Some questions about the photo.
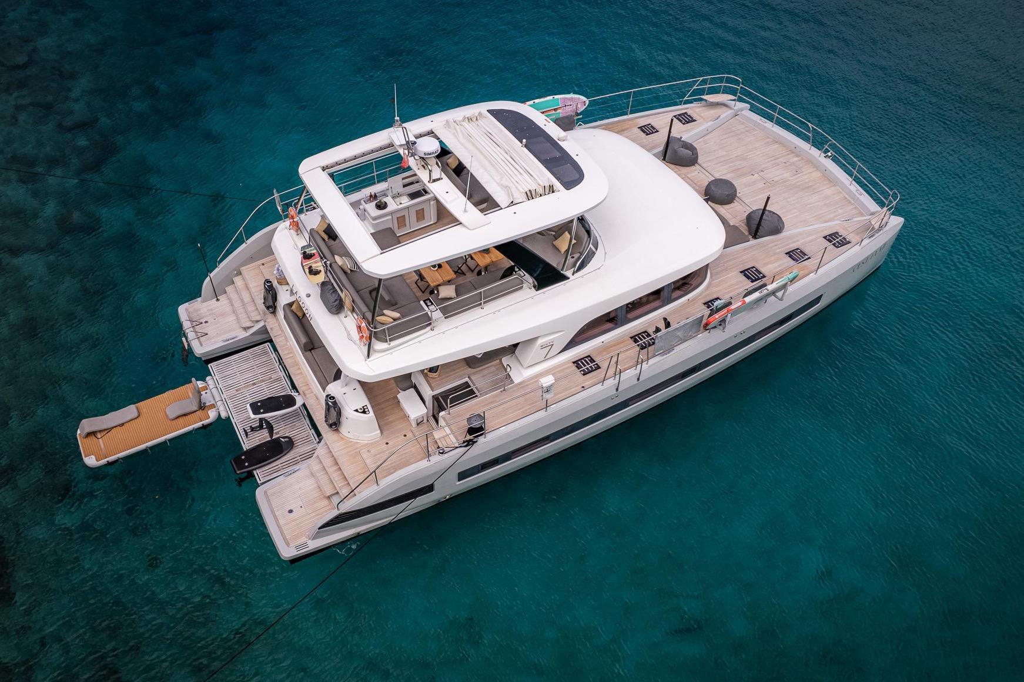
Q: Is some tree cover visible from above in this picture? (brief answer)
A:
No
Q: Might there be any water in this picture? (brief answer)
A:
Yes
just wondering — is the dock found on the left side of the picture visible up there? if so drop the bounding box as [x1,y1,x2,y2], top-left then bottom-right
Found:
[78,383,219,471]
